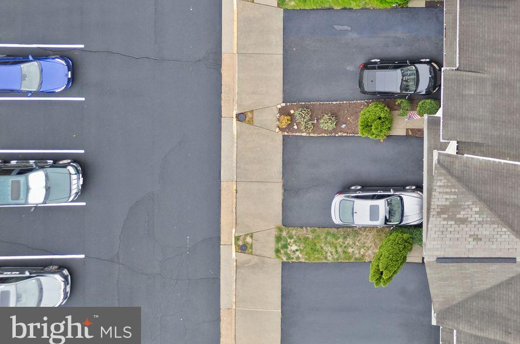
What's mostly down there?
paved ground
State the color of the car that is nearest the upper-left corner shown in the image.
blue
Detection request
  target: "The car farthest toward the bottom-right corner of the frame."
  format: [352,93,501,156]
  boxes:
[328,184,424,231]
